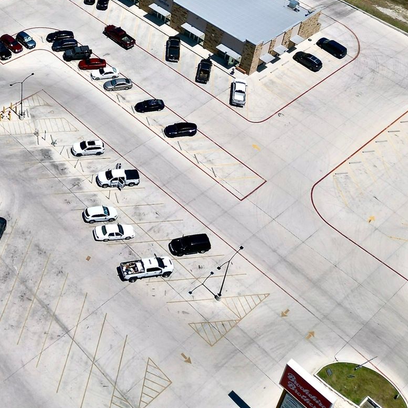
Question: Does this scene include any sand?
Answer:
No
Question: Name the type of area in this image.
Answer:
parking lot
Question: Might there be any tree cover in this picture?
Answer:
No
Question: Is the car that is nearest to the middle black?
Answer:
Yes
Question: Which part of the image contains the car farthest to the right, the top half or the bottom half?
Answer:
top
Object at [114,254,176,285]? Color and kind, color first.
white truck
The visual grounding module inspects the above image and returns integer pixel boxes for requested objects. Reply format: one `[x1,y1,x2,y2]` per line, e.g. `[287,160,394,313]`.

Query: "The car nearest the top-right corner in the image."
[314,38,348,60]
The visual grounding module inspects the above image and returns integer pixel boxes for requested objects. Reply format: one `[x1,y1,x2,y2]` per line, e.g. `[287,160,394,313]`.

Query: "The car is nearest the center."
[166,231,214,257]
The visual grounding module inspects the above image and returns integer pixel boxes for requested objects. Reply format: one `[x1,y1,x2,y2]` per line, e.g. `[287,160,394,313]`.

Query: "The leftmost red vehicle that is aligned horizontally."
[77,59,108,72]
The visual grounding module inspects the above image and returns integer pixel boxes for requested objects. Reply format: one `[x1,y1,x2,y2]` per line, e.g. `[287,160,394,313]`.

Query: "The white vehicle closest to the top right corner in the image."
[229,81,247,108]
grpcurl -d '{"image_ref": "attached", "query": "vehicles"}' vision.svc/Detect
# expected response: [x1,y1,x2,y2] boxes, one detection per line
[229,81,247,108]
[0,219,7,247]
[195,62,213,86]
[90,222,137,245]
[103,79,134,94]
[70,139,106,158]
[314,38,348,60]
[135,97,165,115]
[84,0,96,6]
[14,30,37,51]
[96,169,140,190]
[163,120,198,141]
[77,59,108,72]
[292,52,324,73]
[50,37,80,54]
[89,69,120,83]
[64,45,91,62]
[97,0,109,11]
[1,36,22,54]
[166,231,214,257]
[104,28,135,48]
[164,39,181,63]
[46,28,75,44]
[81,206,117,225]
[114,254,176,285]
[0,40,11,61]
